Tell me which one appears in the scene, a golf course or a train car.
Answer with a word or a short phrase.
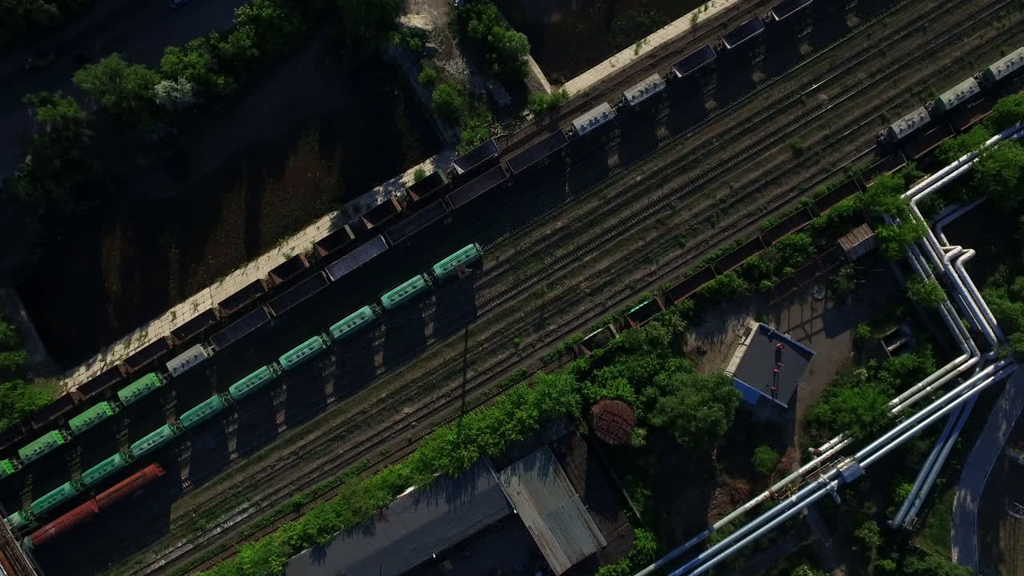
train car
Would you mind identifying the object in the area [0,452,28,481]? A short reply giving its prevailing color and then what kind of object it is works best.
green rail car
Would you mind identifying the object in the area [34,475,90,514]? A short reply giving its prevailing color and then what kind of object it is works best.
green rail car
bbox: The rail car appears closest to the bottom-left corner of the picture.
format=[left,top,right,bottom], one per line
[0,503,41,537]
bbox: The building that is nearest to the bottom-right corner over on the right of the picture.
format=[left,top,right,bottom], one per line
[724,322,816,408]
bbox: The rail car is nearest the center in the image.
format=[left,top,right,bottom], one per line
[432,241,485,280]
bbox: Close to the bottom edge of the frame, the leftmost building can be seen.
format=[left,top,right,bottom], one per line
[282,454,514,576]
